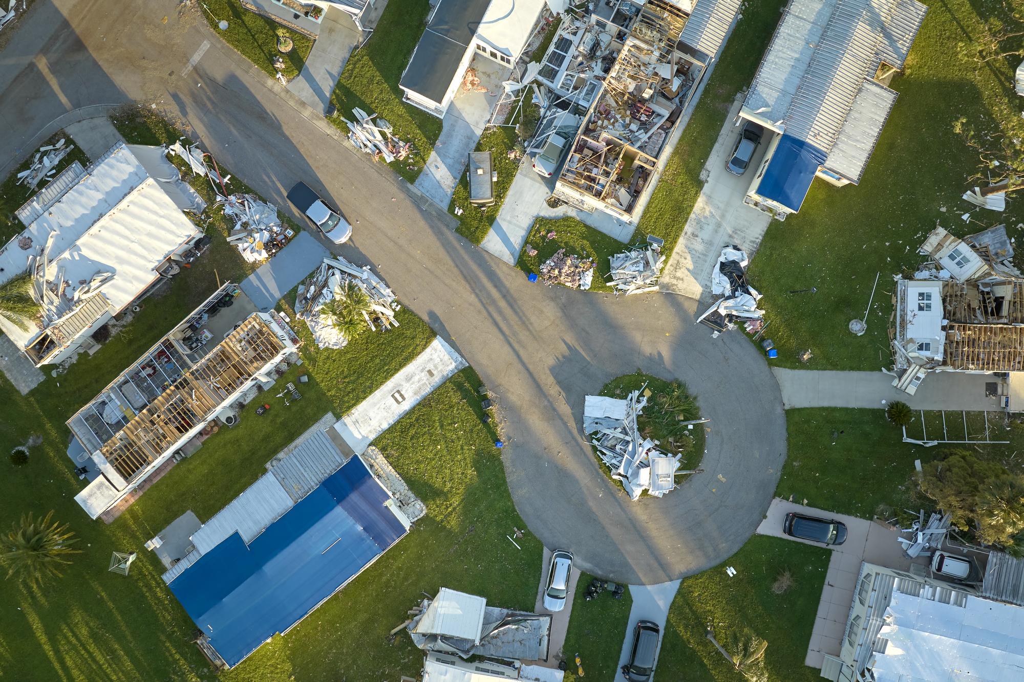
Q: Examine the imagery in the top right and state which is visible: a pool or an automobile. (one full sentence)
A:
The feature located in the top right is an automobile.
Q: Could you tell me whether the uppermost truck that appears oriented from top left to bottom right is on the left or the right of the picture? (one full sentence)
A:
The uppermost truck that appears oriented from top left to bottom right sits on the left side.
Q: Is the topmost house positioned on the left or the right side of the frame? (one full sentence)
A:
The topmost house appears in the left half of the scene.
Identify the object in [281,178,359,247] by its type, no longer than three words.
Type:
truck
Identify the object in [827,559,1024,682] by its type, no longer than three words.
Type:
house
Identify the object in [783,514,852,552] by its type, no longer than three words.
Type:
car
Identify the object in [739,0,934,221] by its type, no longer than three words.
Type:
house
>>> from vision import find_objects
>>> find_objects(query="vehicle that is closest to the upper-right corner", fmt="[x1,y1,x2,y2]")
[720,118,771,181]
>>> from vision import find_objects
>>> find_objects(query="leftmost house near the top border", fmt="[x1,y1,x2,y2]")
[306,0,373,32]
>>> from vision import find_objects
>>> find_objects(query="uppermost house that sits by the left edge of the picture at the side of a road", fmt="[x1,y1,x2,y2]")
[0,143,215,367]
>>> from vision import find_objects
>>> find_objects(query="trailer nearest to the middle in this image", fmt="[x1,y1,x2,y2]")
[467,146,497,214]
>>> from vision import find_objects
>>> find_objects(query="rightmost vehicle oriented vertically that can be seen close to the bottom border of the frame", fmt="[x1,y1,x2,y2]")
[625,618,660,682]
